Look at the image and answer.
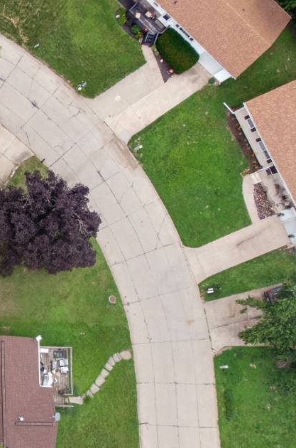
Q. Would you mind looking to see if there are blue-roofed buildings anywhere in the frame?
No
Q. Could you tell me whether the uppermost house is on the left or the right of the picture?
right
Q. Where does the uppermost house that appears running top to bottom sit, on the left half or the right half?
right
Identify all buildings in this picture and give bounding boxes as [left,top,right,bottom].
[129,0,296,84]
[223,78,296,258]
[0,333,60,448]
